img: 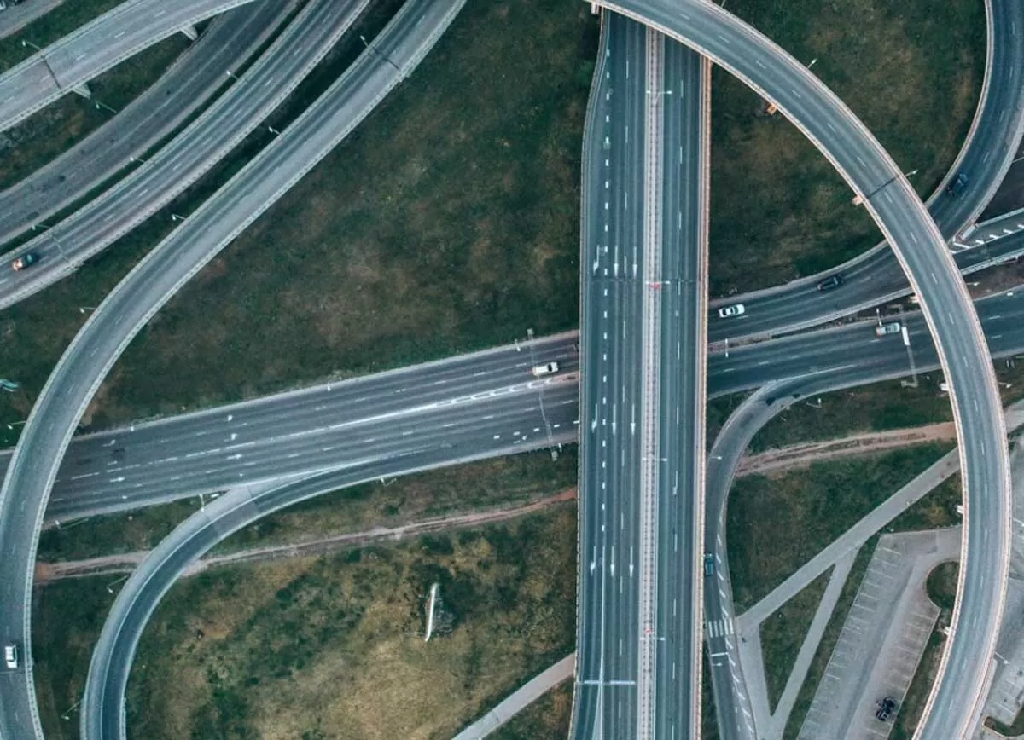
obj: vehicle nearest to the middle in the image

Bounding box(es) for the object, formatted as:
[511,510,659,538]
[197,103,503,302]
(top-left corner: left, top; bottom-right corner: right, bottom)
[531,361,559,376]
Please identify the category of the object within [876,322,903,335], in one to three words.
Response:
vehicle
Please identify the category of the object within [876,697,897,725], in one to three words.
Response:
car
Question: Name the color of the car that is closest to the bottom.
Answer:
black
